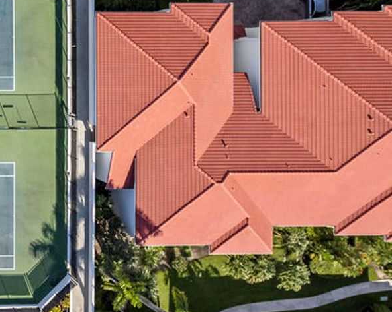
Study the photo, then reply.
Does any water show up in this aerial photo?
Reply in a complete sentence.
No, there is no water in the image.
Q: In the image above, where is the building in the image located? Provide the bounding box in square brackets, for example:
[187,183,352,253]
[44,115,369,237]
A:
[94,1,392,255]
